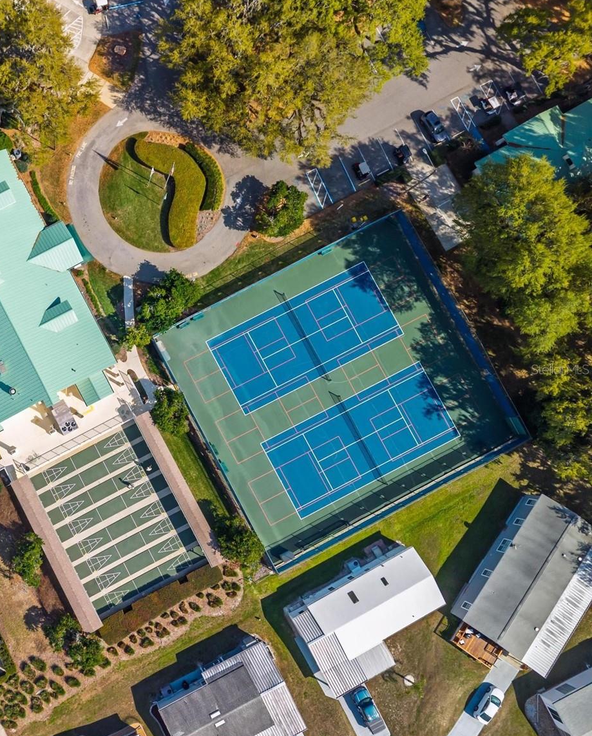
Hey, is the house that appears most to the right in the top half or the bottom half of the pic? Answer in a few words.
bottom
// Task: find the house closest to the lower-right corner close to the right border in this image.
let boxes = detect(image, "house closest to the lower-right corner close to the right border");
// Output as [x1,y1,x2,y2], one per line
[541,667,592,736]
